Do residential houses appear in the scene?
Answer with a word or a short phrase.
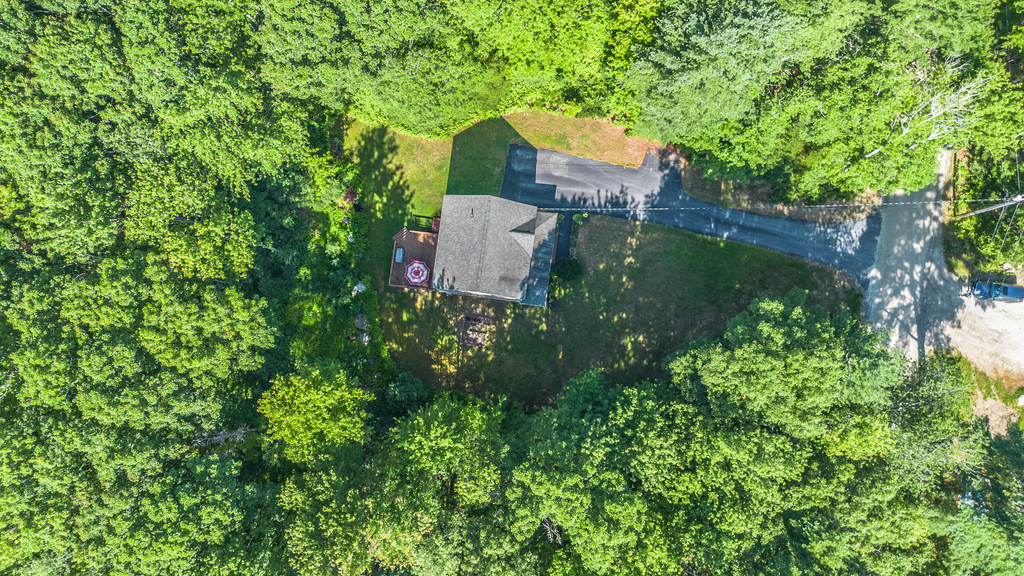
Yes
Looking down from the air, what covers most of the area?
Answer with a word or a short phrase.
trees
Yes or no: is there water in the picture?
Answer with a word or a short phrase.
No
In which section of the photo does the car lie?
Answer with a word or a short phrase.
right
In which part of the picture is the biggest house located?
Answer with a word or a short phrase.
center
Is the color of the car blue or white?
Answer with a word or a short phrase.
blue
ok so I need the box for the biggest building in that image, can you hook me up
[430,194,559,308]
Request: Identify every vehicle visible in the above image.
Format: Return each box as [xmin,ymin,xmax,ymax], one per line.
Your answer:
[974,279,1024,305]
